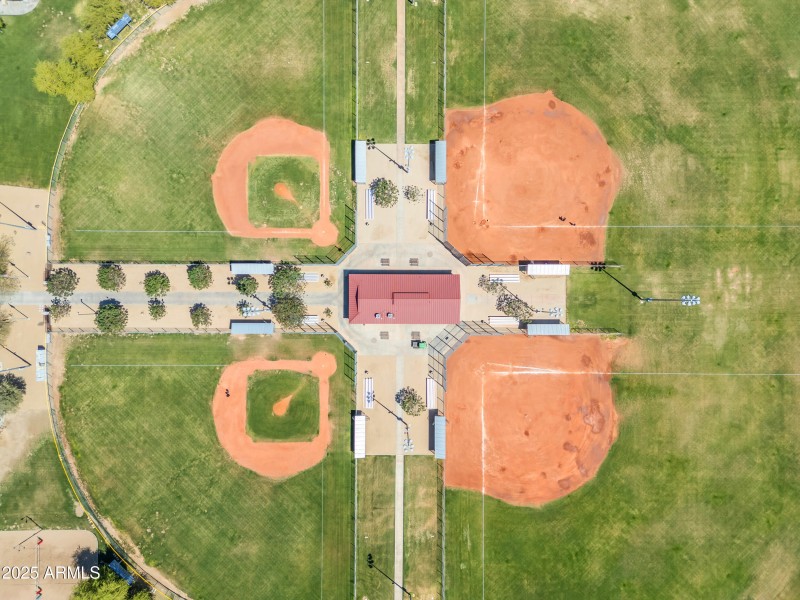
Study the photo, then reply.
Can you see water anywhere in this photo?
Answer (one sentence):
No, there is no water in the image.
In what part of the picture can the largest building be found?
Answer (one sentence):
The largest building is in the center part of the image.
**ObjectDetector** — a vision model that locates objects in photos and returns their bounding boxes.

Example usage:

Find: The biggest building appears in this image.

[348,273,461,324]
